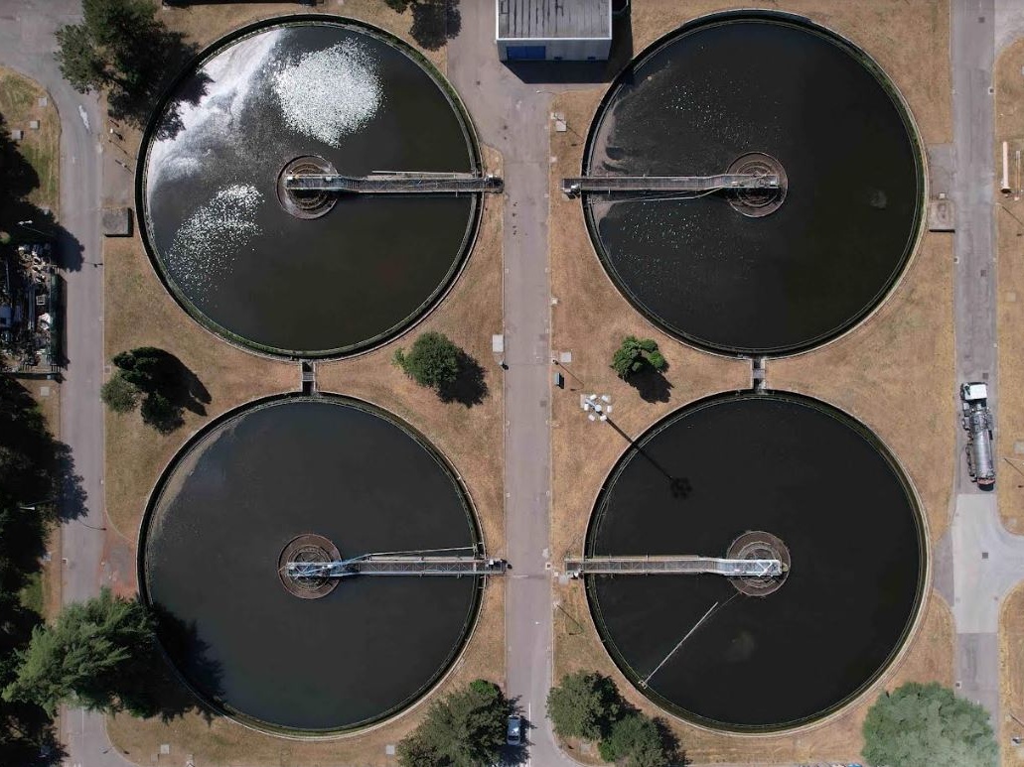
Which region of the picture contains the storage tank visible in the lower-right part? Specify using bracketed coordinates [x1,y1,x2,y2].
[584,389,933,738]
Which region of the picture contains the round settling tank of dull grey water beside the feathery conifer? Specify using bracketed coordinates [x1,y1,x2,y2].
[136,389,486,739]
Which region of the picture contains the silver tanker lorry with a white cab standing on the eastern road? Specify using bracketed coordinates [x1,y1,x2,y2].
[960,383,997,487]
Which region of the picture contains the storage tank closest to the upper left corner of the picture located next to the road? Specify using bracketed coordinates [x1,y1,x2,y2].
[135,12,484,362]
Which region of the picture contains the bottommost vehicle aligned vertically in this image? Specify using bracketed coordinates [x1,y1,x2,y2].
[506,716,521,747]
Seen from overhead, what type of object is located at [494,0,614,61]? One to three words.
shed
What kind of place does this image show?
industrial area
